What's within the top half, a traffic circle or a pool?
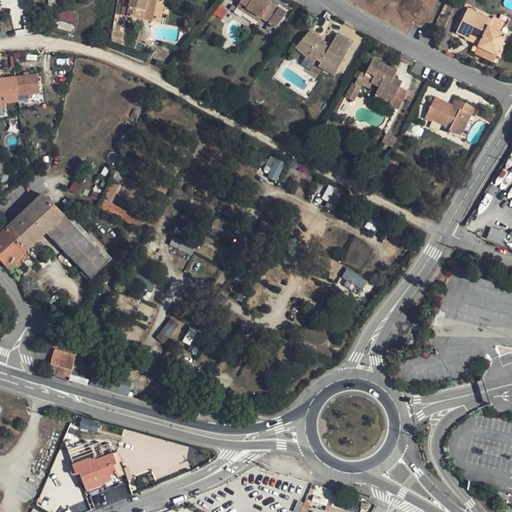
pool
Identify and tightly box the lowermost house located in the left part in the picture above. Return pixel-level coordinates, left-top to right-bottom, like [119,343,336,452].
[72,453,114,495]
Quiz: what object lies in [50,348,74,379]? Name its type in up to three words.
house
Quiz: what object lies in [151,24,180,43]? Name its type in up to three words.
swimming pool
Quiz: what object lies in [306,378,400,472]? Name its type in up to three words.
roundabout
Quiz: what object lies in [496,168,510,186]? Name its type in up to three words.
boat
